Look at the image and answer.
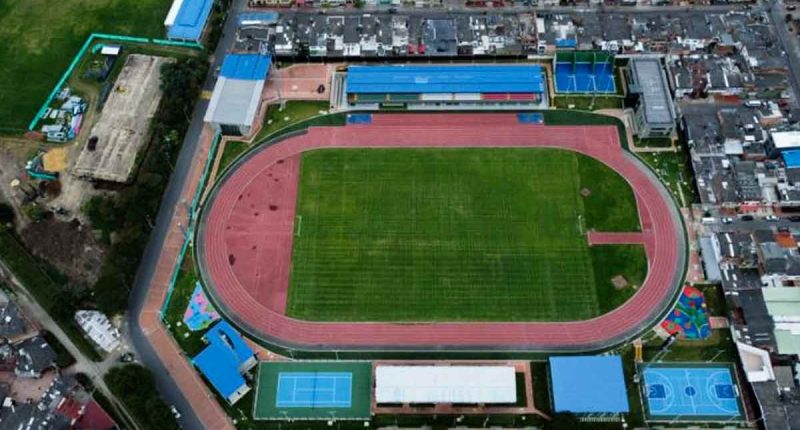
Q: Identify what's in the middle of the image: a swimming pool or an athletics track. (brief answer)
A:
athletics track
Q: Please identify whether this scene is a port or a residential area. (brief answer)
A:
residential area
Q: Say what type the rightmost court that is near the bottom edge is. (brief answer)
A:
basketball court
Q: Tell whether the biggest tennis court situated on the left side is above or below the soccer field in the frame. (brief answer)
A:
below it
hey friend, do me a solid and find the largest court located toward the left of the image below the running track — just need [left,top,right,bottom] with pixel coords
[254,362,372,419]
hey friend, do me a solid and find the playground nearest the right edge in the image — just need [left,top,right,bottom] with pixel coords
[662,287,710,339]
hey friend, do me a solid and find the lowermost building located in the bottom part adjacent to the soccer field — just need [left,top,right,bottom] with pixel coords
[376,366,516,407]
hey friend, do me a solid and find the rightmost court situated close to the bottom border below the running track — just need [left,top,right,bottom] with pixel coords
[637,364,747,421]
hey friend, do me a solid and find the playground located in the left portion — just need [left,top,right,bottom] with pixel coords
[184,282,220,331]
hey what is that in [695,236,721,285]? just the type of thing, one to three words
shed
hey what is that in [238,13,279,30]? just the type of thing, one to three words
building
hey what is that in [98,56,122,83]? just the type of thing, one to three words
shed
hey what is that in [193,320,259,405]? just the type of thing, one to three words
building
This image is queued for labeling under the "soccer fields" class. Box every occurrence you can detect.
[287,146,649,322]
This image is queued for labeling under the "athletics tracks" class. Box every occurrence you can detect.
[192,108,691,360]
